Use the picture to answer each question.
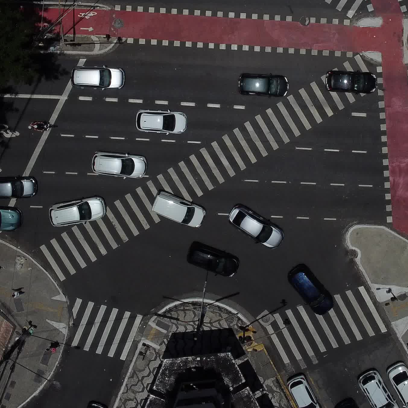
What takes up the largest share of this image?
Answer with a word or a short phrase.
paved ground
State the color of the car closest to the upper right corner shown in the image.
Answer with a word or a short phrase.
black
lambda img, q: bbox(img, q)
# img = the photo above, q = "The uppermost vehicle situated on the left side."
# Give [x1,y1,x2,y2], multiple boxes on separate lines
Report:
[71,64,125,92]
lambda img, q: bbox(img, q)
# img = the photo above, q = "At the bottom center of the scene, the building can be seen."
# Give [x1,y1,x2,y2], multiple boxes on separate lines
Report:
[142,329,274,408]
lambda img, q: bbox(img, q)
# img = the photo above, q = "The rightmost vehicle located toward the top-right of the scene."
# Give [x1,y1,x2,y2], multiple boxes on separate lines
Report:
[324,68,376,96]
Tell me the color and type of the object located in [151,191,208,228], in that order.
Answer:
white vehicle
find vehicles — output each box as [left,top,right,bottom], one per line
[361,365,401,408]
[226,203,286,248]
[0,205,25,233]
[92,151,148,181]
[136,108,188,136]
[0,173,40,201]
[151,191,208,228]
[238,71,288,98]
[283,370,322,408]
[186,241,241,277]
[49,196,108,226]
[387,358,408,408]
[324,68,376,96]
[44,120,59,132]
[71,64,125,92]
[288,261,333,315]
